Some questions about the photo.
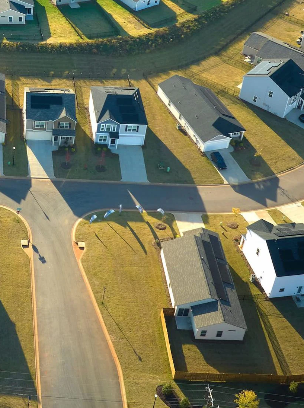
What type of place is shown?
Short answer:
residential area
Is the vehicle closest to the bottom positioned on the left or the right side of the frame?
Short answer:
right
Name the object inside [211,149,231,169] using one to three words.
vehicle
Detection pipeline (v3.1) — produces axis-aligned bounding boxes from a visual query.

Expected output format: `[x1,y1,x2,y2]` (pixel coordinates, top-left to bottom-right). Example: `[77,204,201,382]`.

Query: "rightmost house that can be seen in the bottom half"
[237,218,304,301]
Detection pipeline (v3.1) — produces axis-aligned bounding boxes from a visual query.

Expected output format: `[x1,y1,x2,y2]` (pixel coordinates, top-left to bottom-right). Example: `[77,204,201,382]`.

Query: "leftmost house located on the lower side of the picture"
[152,219,251,341]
